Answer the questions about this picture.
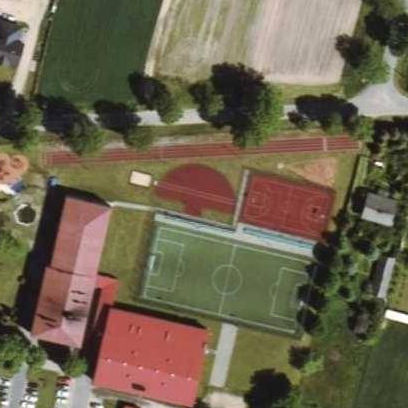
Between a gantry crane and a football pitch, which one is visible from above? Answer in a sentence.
The image shows a football pitch.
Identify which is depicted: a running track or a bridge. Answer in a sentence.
Visible in the photo is a running track.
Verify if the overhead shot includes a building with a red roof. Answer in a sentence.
Yes, this view includes a building with a red roof.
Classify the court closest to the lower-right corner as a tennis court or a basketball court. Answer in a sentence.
The court closest to the lower-right corner can be classified as a basketball court.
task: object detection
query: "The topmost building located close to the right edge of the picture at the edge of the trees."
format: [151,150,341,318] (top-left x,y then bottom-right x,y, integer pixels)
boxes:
[361,194,397,226]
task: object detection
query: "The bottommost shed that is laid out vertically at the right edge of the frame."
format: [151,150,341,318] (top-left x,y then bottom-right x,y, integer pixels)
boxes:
[377,258,395,300]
